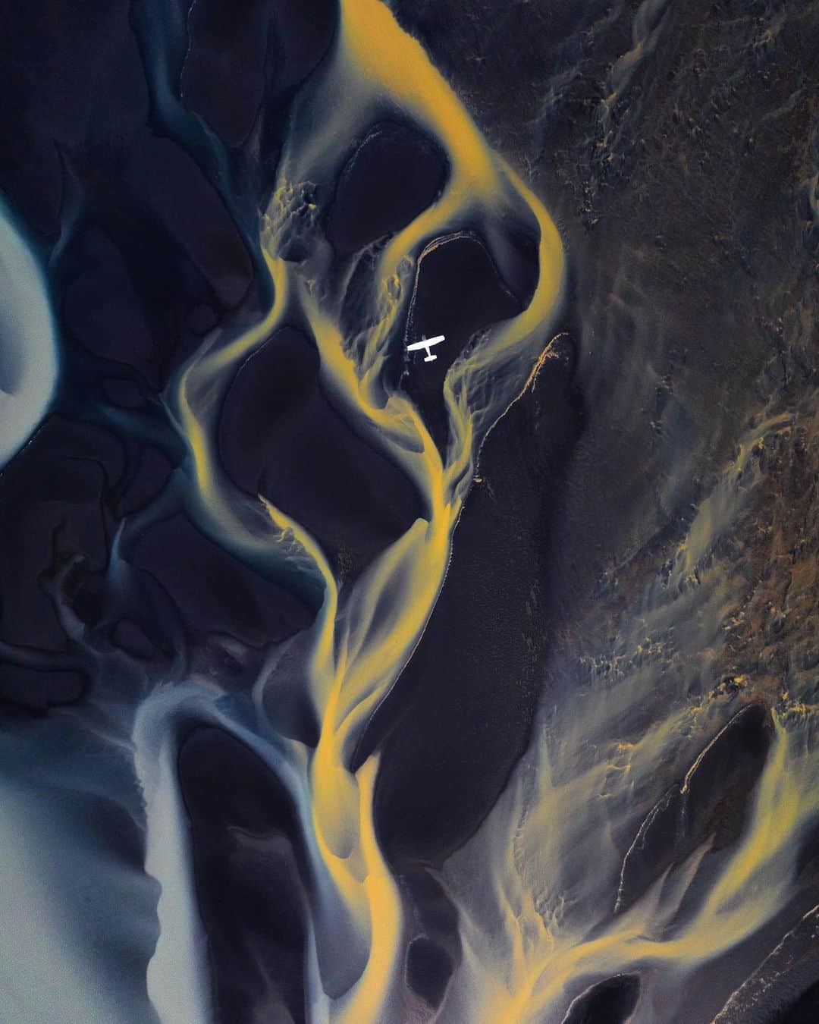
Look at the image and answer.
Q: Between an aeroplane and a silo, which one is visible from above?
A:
aeroplane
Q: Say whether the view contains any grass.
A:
No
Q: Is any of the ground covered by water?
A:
Yes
